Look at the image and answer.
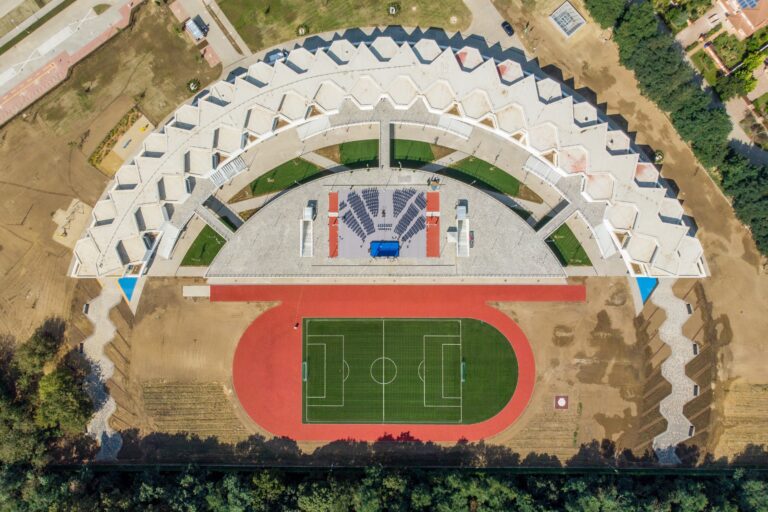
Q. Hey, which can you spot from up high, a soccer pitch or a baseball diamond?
soccer pitch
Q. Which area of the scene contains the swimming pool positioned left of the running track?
left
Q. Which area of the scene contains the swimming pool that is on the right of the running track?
right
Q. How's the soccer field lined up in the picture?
from left to right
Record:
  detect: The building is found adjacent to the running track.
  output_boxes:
[74,37,706,279]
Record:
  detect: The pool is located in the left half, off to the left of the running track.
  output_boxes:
[117,278,137,300]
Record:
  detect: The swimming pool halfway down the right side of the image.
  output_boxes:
[638,278,658,302]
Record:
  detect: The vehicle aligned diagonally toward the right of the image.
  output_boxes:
[502,19,515,35]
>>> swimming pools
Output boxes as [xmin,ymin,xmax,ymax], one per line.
[117,278,137,300]
[638,278,658,302]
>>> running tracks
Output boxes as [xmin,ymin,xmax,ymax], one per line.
[211,285,586,442]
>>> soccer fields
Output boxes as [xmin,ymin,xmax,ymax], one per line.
[302,318,518,424]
